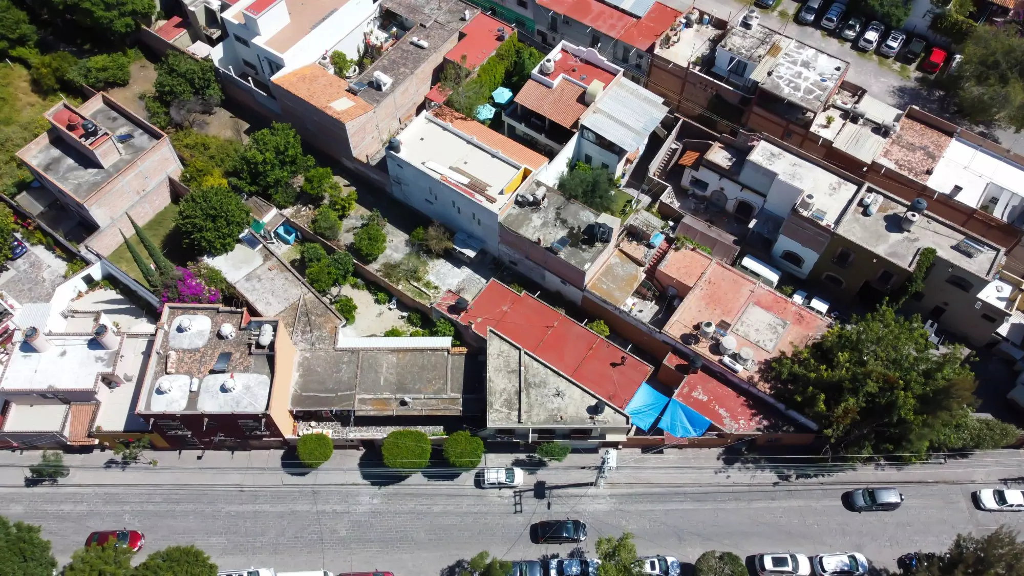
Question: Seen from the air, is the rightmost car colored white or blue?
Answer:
white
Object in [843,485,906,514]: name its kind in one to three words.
car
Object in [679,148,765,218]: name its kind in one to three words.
house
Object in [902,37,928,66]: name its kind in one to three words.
car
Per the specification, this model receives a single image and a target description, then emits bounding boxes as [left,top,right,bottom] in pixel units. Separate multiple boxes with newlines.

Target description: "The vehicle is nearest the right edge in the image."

[972,486,1024,514]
